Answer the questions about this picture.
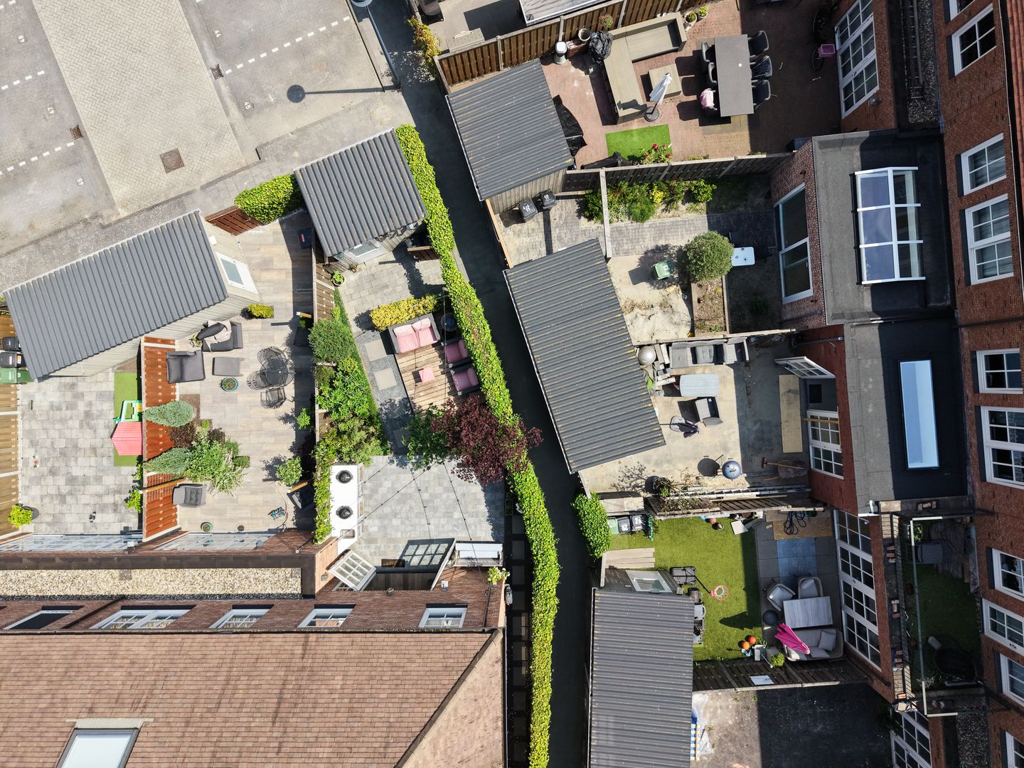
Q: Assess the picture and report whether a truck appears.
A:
No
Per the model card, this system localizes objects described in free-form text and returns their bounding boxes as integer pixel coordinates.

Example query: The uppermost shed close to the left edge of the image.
[2,208,257,379]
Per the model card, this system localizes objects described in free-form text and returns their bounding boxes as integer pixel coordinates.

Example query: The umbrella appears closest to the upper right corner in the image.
[645,80,671,122]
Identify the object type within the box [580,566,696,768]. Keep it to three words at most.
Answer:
shed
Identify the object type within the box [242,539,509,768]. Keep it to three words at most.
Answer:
house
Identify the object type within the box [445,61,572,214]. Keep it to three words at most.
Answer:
shed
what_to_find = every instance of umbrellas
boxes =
[771,617,811,654]
[645,80,671,122]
